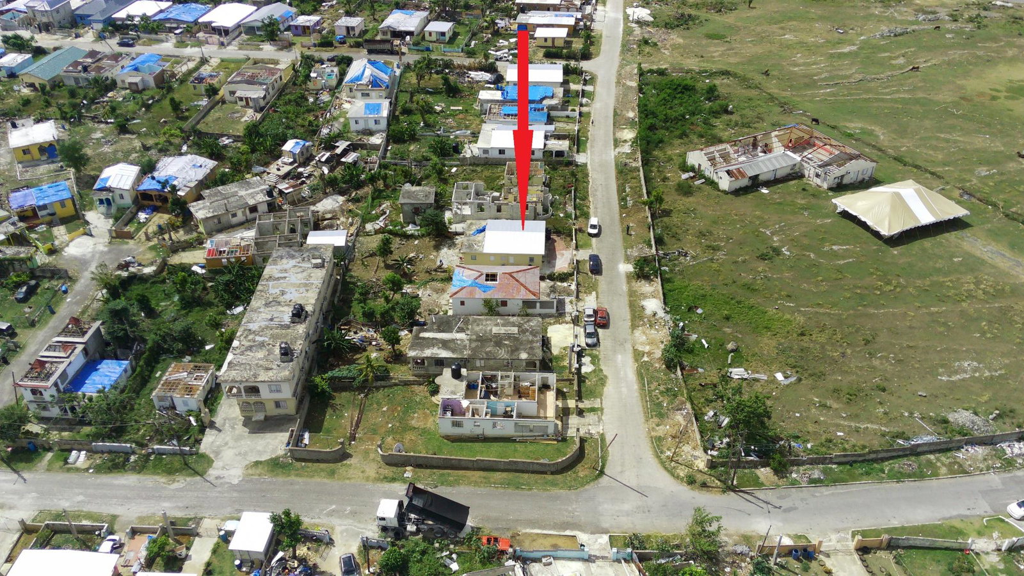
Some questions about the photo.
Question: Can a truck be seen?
Yes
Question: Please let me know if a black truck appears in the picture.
Yes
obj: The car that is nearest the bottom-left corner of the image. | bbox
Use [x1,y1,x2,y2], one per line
[96,531,129,548]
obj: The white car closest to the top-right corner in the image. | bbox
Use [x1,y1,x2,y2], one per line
[588,216,600,235]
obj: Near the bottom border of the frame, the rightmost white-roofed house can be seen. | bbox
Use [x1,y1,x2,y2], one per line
[228,510,278,570]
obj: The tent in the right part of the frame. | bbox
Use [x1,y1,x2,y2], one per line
[826,182,972,249]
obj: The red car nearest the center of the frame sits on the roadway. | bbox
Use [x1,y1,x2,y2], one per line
[595,309,610,329]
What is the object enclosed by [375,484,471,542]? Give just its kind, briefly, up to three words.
truck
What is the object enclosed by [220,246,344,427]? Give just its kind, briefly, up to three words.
building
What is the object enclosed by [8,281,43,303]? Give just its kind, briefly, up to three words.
car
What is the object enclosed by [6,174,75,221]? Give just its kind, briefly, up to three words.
house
